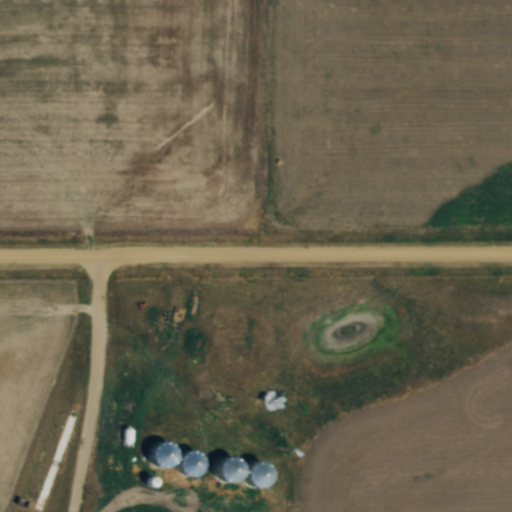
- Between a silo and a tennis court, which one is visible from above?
silo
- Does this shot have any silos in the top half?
No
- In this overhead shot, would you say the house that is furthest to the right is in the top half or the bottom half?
bottom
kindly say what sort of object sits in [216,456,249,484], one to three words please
silo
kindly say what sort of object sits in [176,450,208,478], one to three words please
silo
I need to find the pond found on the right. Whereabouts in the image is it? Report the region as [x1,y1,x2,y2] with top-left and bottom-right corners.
[320,314,385,352]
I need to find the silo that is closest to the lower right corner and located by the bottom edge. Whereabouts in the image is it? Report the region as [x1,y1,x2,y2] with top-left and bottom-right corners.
[245,461,278,490]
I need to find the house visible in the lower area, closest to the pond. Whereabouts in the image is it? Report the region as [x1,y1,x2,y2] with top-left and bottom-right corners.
[262,391,287,413]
